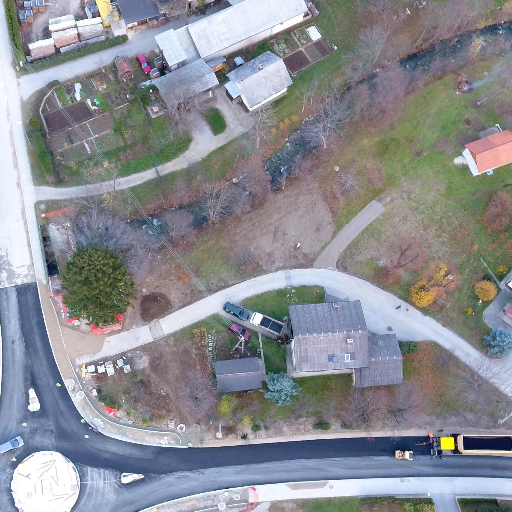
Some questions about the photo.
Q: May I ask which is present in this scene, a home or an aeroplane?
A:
home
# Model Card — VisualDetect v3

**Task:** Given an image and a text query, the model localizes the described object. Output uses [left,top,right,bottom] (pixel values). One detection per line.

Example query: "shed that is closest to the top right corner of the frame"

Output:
[464,129,512,173]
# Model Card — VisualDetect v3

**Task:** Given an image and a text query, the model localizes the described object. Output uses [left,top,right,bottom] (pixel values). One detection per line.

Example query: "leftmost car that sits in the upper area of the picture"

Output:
[135,53,152,75]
